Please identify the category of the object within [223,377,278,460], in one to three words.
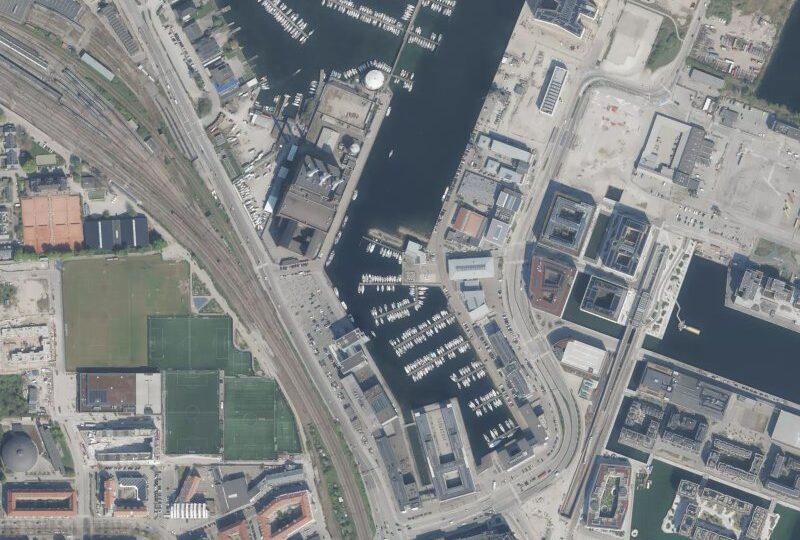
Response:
soccer field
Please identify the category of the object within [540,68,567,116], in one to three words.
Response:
shed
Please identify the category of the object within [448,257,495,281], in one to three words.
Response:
building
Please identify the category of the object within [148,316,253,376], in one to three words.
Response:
soccer field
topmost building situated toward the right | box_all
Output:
[534,0,602,40]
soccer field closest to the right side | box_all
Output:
[273,377,300,452]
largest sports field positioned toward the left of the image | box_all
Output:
[63,253,189,371]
